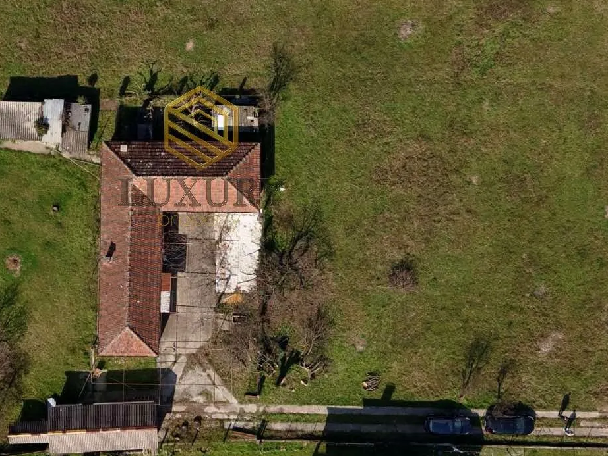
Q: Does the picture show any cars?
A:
Yes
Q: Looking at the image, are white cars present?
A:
No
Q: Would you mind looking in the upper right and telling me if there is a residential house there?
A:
No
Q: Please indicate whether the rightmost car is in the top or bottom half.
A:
bottom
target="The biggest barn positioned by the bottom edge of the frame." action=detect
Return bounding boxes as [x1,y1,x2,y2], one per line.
[48,399,158,455]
